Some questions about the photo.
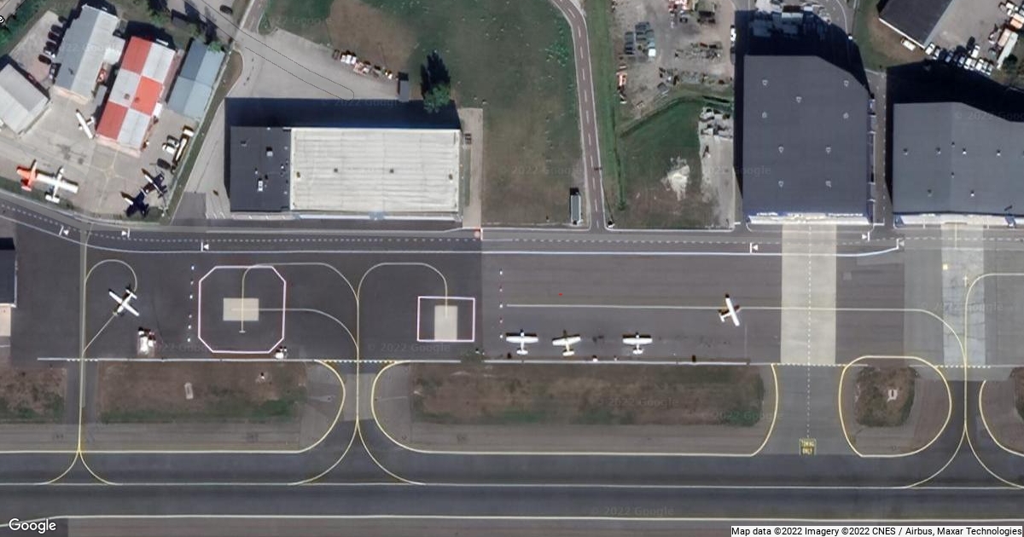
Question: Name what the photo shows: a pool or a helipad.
helipad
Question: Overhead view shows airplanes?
Yes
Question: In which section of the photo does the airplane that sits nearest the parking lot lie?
top left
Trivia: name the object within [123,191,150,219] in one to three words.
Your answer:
airplane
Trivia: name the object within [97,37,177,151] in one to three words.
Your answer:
hangar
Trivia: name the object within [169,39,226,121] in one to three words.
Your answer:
hangar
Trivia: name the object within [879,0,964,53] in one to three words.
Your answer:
building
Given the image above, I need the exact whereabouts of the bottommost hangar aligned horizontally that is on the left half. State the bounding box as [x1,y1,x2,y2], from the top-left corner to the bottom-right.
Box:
[230,127,465,220]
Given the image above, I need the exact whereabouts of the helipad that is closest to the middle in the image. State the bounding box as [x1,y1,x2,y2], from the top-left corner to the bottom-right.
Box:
[417,296,476,342]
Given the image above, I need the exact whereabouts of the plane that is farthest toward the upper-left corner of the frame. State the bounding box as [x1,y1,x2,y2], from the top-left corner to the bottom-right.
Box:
[75,113,99,138]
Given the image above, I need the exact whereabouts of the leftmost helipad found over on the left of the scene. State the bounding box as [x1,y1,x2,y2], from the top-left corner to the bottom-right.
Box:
[198,265,286,353]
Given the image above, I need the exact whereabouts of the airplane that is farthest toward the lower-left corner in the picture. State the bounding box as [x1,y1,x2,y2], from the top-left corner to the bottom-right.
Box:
[108,285,139,313]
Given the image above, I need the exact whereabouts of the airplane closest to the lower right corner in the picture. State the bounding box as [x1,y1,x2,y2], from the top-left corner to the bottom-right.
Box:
[717,297,740,325]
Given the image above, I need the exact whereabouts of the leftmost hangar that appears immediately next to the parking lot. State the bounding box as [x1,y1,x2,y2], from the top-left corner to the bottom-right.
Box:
[0,61,50,136]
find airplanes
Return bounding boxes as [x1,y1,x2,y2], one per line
[18,167,47,191]
[622,335,652,357]
[552,335,581,358]
[108,285,139,313]
[38,174,78,204]
[717,297,740,325]
[140,171,167,198]
[123,191,150,219]
[506,332,538,356]
[75,113,99,138]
